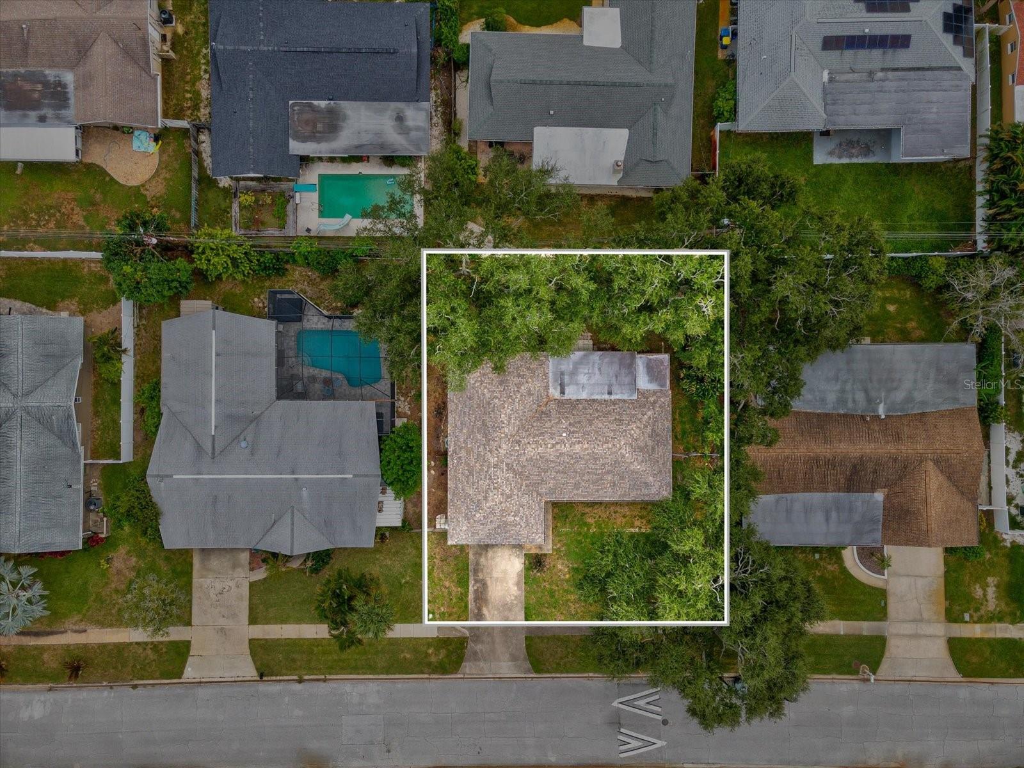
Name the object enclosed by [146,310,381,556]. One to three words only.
house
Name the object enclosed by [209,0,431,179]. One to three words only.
house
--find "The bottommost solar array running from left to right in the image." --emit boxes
[823,35,912,50]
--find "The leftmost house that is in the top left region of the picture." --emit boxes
[0,0,170,161]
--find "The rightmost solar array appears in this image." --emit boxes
[944,0,975,56]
